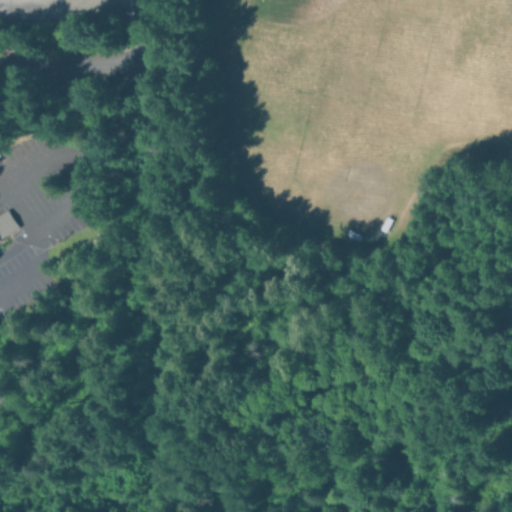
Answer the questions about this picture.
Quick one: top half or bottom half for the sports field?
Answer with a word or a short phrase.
top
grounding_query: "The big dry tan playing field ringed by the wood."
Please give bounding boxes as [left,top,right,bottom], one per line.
[236,0,512,249]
